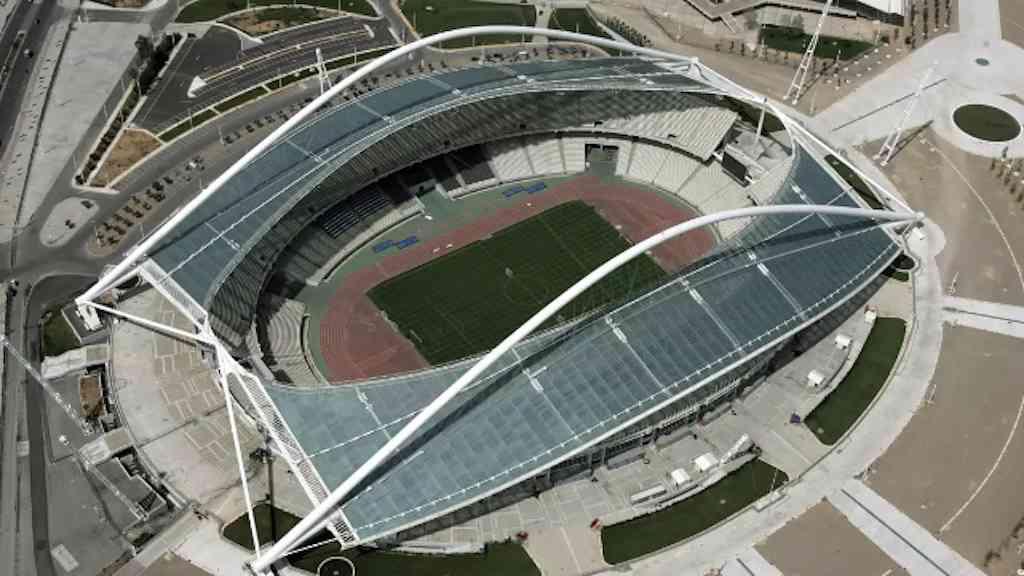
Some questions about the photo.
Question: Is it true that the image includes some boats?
No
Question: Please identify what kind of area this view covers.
sports ground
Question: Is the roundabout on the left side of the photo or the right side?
right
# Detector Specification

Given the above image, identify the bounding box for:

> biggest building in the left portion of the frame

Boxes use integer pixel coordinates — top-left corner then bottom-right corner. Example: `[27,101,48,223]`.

[83,449,167,511]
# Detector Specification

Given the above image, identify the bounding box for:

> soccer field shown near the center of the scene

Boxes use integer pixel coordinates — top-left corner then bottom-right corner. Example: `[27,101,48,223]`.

[367,199,672,369]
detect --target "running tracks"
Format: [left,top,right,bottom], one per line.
[288,152,722,385]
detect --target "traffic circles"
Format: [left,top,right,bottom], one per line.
[933,95,1024,155]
